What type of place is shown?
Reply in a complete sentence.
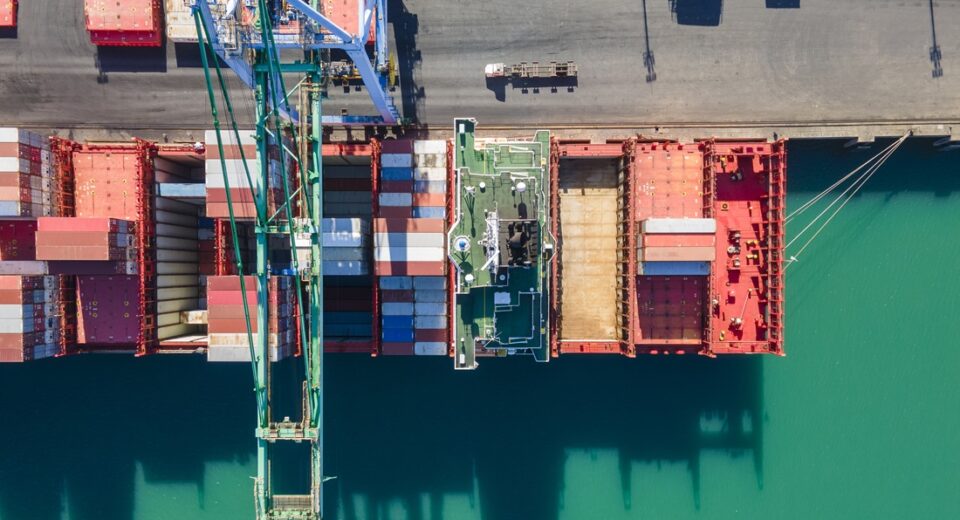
This looks like a port.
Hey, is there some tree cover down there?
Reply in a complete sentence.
No, no tree cover is visible.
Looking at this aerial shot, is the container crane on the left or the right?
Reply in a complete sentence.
The container crane appears in the left half of the scene.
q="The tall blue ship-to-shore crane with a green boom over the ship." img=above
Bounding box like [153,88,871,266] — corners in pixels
[189,0,403,520]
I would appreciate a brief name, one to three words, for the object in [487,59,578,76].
vehicle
